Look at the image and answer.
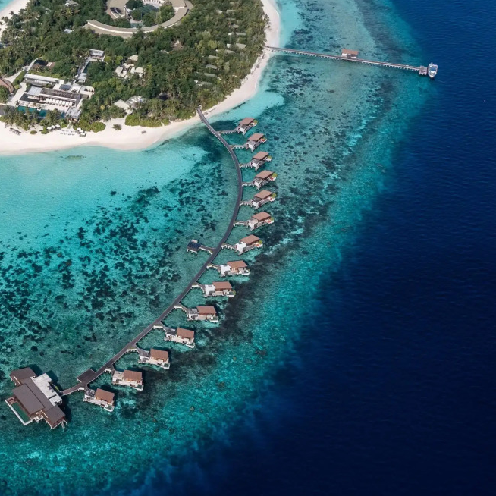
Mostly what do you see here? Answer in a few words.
water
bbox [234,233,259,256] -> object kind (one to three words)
house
